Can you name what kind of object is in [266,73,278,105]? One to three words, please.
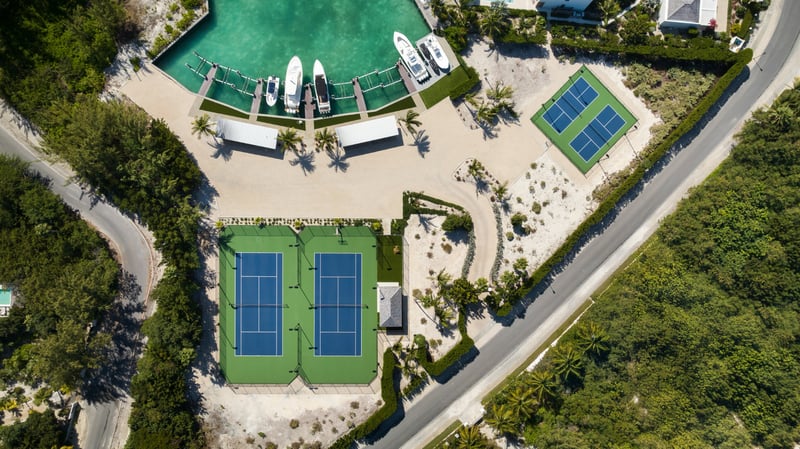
boat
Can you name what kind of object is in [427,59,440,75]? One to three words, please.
boat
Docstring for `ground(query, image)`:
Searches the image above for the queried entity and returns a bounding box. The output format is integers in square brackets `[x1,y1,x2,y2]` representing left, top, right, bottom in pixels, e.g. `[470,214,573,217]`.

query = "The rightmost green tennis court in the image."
[298,226,377,384]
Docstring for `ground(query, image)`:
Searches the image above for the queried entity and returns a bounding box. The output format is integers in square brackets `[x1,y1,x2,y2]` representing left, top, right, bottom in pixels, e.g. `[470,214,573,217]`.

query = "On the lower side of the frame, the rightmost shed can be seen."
[377,280,402,326]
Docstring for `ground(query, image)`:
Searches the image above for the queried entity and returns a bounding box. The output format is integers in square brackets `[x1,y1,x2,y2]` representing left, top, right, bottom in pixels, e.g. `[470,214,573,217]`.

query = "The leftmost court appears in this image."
[219,226,298,384]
